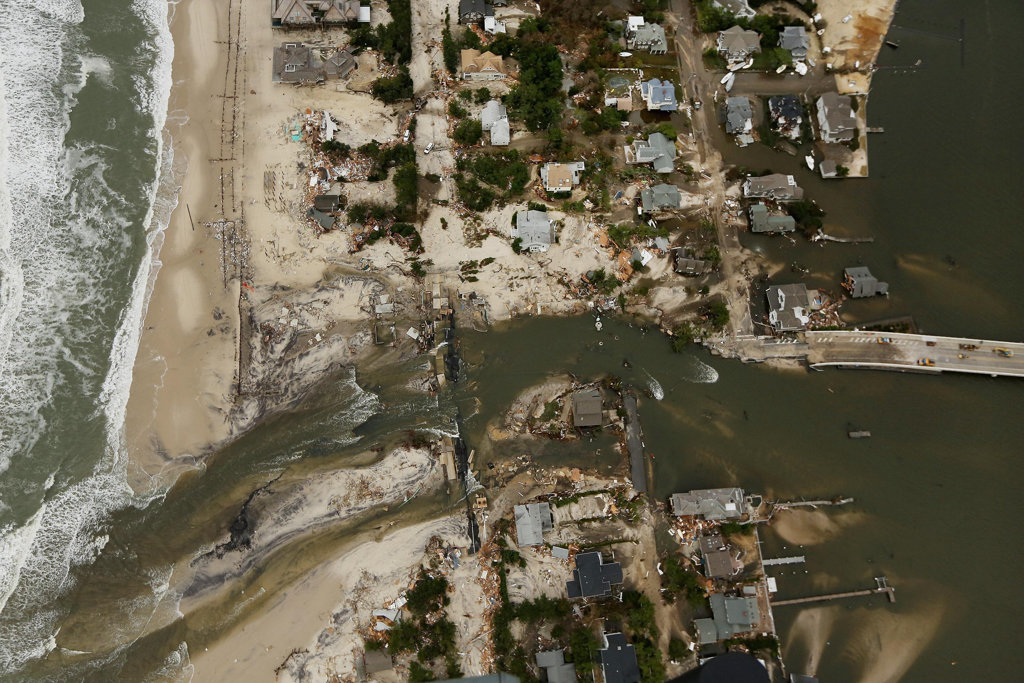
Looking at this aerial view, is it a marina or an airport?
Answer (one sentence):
The picture captures a marina.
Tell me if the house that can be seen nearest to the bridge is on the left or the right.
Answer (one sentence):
It is on the right.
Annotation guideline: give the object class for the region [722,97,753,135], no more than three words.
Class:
house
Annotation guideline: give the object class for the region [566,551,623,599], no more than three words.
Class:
house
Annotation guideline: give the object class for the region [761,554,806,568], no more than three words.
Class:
pier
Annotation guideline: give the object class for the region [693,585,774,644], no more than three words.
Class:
building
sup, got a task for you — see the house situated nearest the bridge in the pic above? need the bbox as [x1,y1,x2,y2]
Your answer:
[762,283,821,333]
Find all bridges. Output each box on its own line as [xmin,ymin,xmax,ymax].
[805,330,1024,378]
